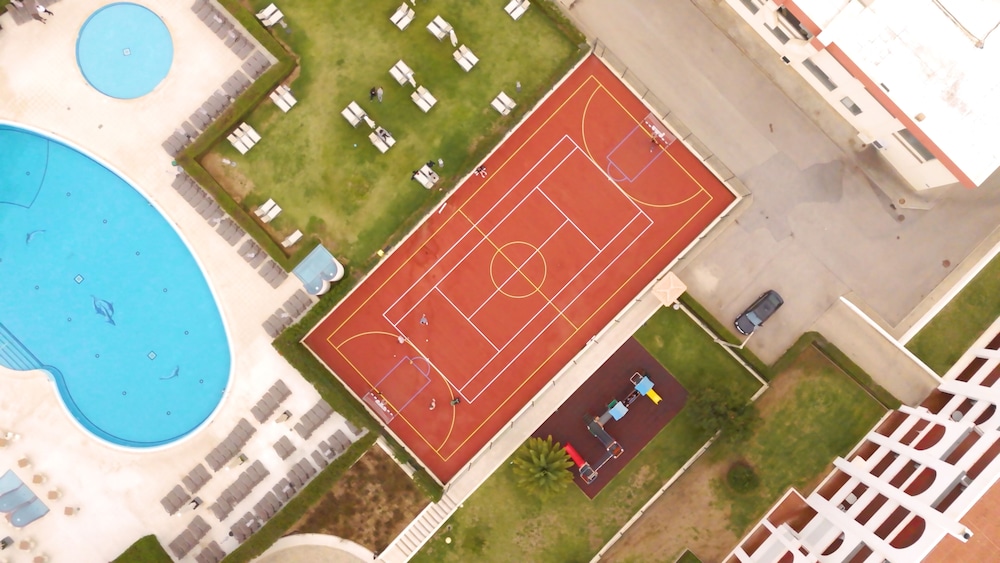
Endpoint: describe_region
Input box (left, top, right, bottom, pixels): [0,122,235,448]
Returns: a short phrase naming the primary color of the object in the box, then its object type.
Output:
blue swimming pool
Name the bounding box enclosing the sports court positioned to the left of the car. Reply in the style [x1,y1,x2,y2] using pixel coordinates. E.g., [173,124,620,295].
[303,54,736,484]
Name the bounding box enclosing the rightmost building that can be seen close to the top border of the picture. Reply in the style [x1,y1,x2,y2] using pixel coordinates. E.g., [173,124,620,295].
[728,0,1000,191]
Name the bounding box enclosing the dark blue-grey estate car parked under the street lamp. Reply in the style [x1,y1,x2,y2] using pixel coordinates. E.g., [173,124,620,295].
[734,288,784,335]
